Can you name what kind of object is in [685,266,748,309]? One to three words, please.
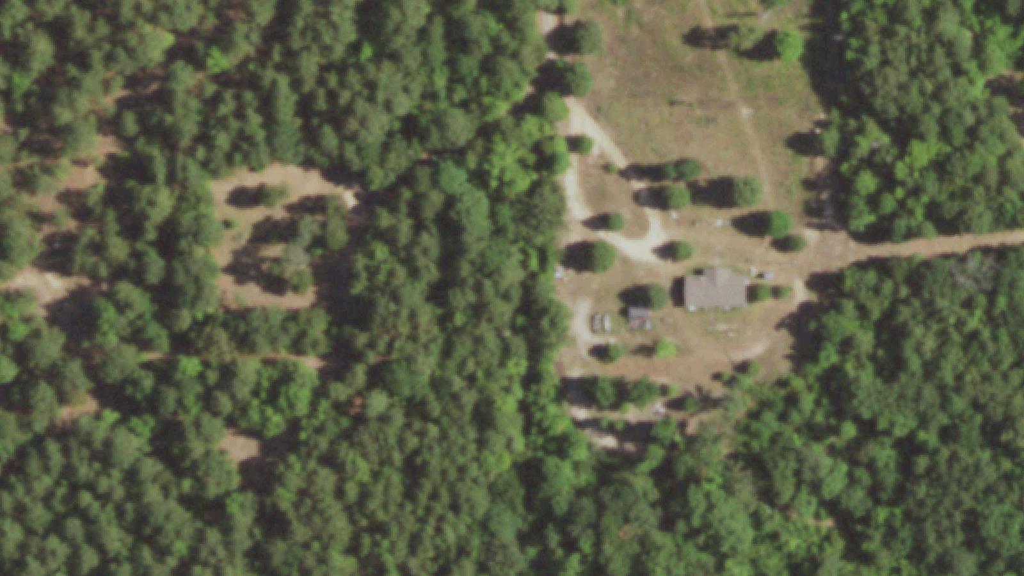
house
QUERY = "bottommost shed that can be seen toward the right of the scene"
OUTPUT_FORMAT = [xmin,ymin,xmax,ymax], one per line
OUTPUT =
[629,308,649,328]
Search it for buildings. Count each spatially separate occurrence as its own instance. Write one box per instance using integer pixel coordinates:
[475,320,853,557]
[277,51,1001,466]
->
[685,266,748,309]
[629,308,649,328]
